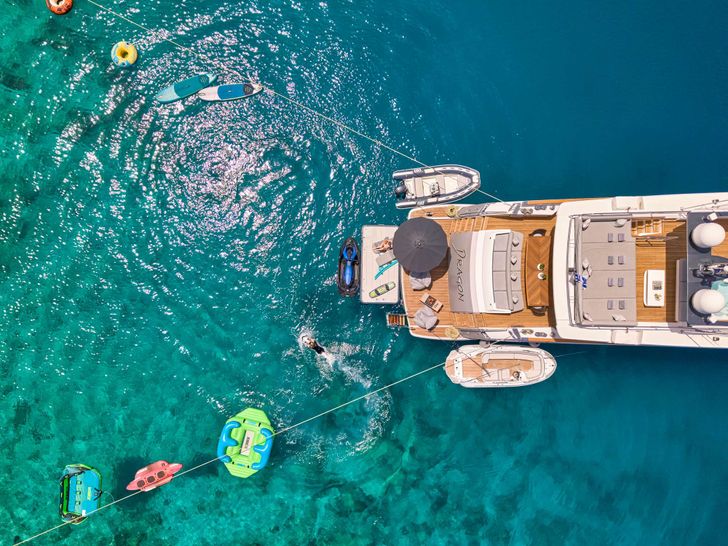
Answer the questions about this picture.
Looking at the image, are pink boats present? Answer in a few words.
Yes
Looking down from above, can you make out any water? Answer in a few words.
Yes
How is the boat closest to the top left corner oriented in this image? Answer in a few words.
from top to bottom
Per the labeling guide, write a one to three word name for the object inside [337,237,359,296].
boat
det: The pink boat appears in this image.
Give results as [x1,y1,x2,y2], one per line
[124,460,181,493]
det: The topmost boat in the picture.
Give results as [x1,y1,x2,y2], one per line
[384,166,481,210]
